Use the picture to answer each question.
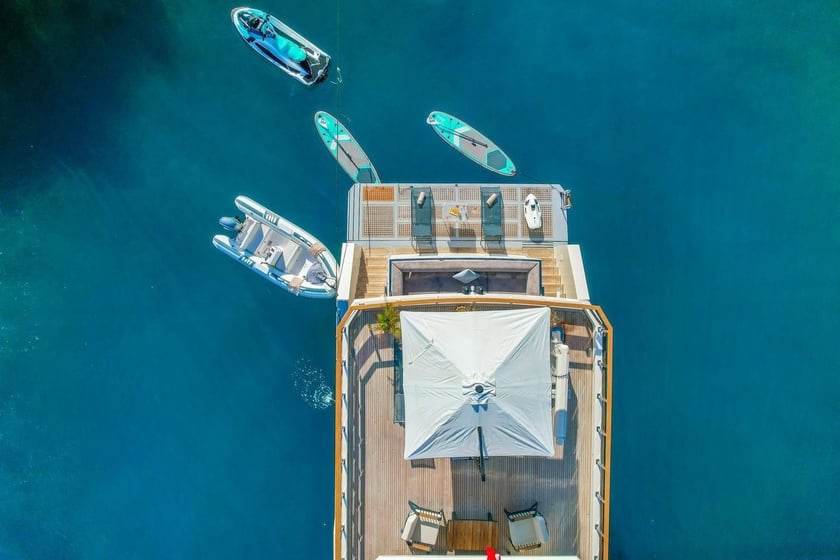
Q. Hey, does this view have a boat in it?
Yes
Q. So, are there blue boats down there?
Yes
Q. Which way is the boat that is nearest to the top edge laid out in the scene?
at an angle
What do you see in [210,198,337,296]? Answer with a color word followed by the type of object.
white boat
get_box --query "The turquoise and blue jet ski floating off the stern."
[229,4,329,85]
